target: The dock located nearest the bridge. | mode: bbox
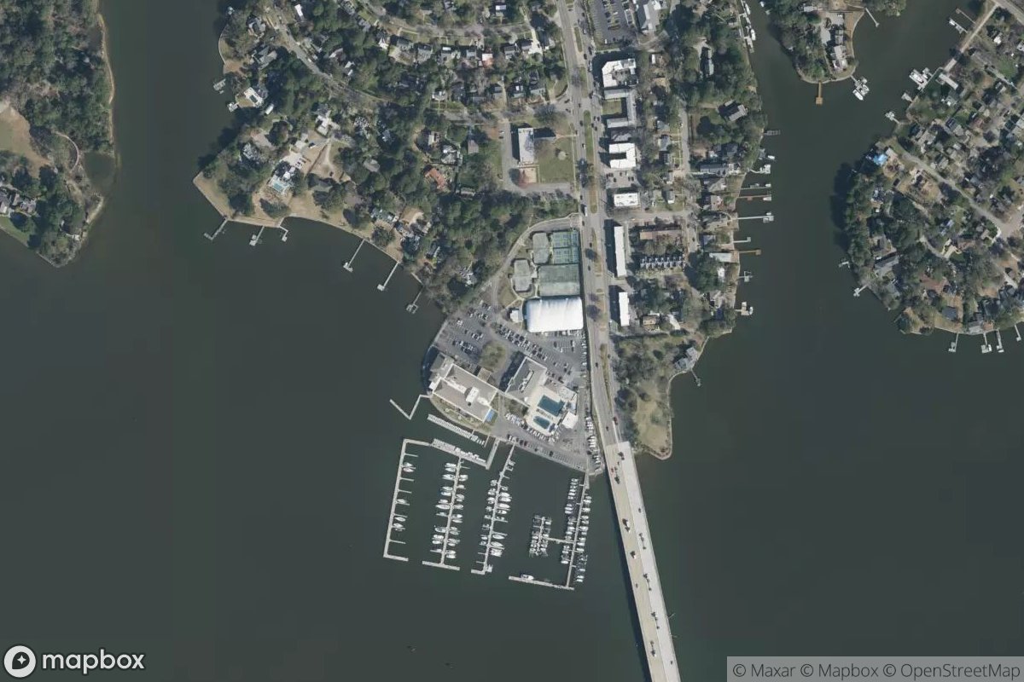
[567,471,589,588]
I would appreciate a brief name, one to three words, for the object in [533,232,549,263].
tennis court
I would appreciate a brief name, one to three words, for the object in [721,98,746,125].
house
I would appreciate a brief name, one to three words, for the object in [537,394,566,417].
swimming pool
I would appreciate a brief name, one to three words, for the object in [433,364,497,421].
building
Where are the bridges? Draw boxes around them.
[605,444,679,682]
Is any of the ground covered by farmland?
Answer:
No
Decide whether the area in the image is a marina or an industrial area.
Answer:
marina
